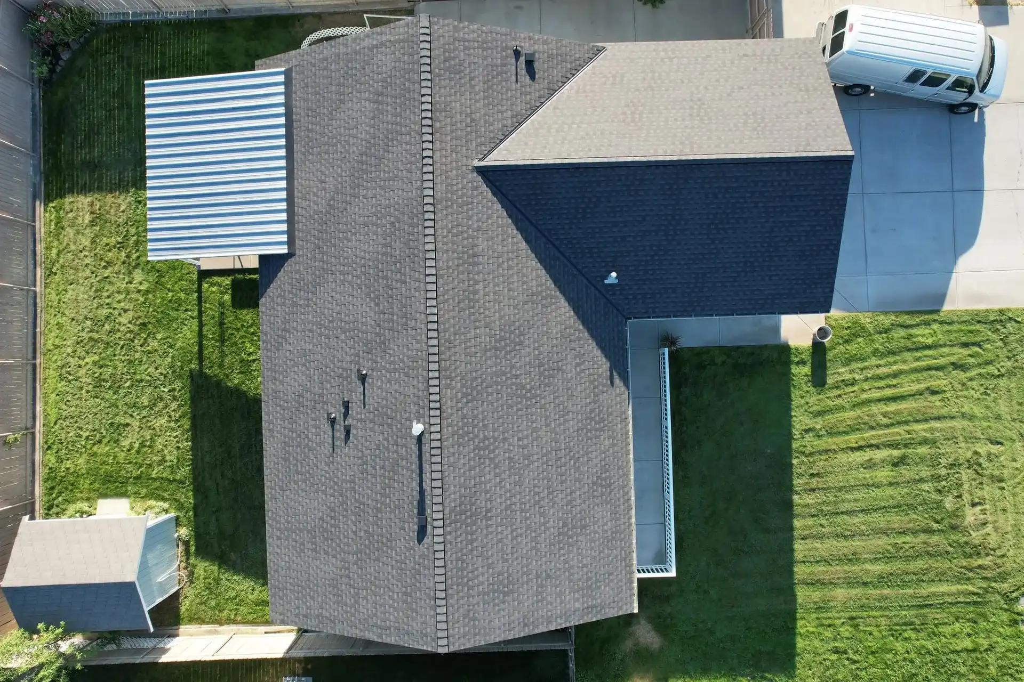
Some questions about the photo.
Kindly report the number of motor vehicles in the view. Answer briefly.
1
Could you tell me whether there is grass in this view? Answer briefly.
Yes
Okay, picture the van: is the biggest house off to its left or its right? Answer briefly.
on the left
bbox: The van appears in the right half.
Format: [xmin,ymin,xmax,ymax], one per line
[814,4,1008,115]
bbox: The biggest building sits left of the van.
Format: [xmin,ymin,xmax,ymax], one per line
[253,15,858,655]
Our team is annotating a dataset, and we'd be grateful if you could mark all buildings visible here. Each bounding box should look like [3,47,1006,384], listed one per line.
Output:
[253,15,858,655]
[2,511,179,637]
